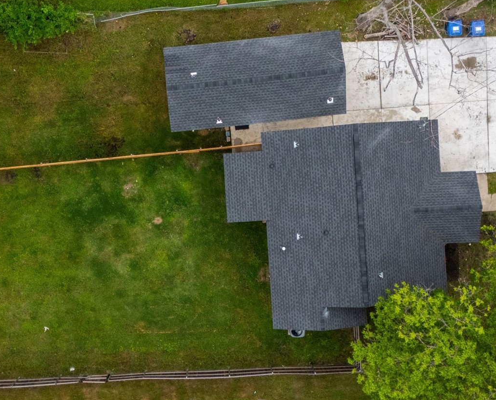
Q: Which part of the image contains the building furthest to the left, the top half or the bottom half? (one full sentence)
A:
The building furthest to the left sits in the top half of the picture.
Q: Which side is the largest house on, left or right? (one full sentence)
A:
You can find the largest house on the right side of the picture.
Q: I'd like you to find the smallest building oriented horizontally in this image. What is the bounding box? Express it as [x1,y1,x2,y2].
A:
[164,31,347,133]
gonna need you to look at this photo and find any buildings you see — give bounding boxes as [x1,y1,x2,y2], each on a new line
[223,116,485,332]
[164,31,347,133]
